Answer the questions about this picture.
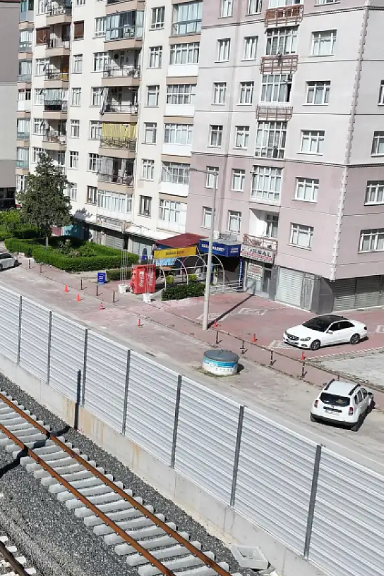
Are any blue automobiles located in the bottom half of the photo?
No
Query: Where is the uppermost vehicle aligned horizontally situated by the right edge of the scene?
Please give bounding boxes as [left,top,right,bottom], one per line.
[280,312,369,348]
